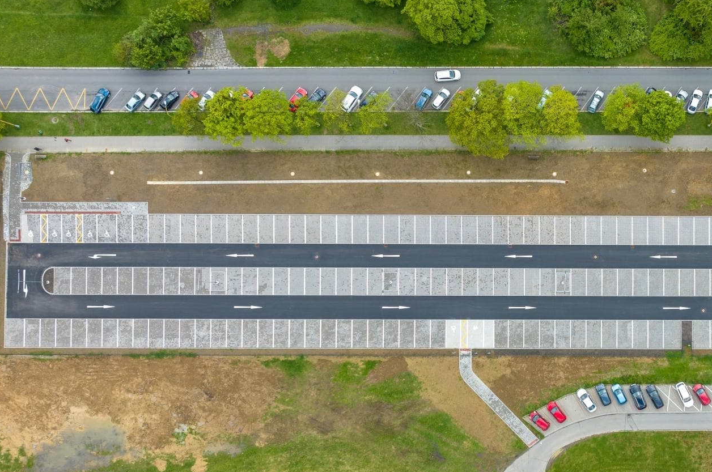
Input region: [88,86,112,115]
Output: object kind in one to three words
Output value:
car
